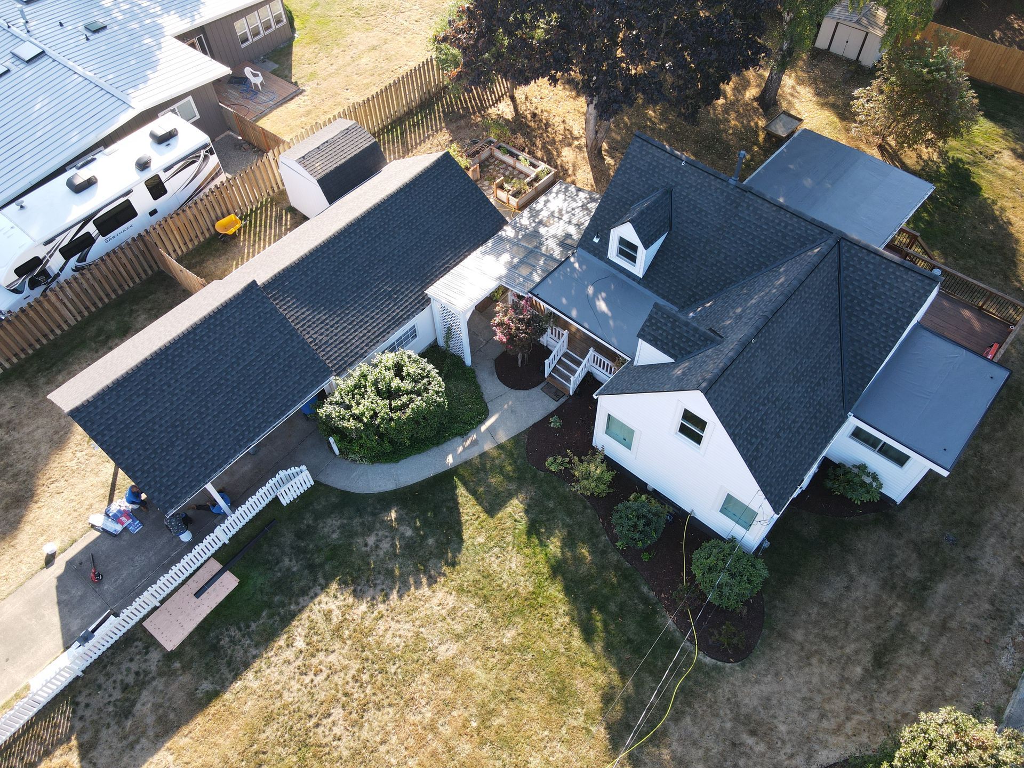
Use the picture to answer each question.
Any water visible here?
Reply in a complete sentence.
No, the picture contains no water.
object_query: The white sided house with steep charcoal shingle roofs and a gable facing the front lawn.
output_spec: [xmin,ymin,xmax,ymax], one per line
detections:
[527,128,1011,544]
